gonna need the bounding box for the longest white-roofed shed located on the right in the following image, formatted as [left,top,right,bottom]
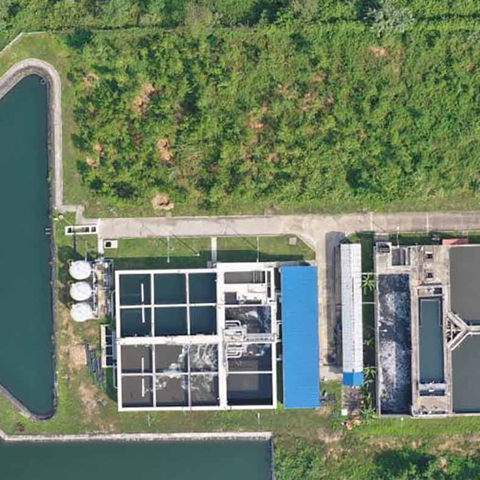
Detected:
[341,243,363,386]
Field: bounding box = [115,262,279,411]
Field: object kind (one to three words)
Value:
water tank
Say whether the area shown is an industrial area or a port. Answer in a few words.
industrial area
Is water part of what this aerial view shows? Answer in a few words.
Yes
